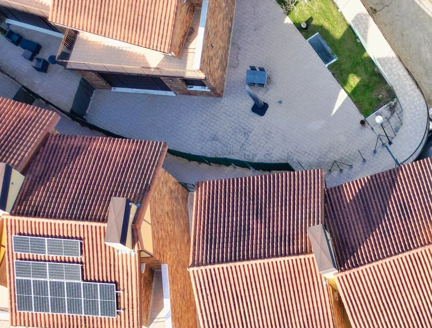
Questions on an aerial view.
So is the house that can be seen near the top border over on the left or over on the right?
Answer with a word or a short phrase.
left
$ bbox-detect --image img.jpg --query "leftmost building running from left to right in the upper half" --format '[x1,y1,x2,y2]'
[0,0,239,103]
